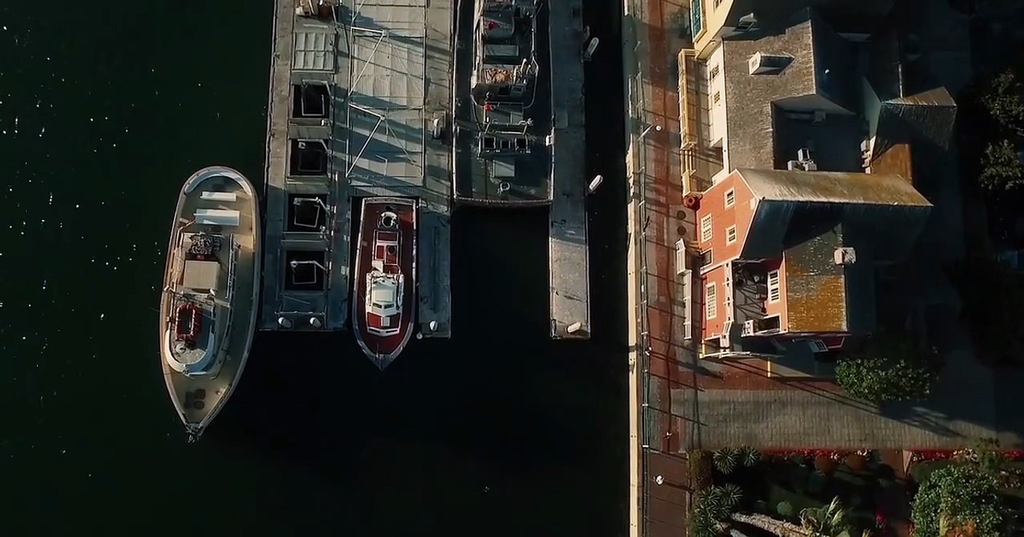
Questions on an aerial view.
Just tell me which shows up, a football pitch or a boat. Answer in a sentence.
It is a boat that can be seen here.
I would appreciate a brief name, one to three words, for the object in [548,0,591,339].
pier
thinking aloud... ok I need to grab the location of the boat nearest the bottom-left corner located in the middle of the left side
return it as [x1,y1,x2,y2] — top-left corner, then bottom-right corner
[158,166,266,446]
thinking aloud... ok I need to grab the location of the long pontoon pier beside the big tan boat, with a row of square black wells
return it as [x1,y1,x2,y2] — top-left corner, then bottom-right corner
[259,0,351,331]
